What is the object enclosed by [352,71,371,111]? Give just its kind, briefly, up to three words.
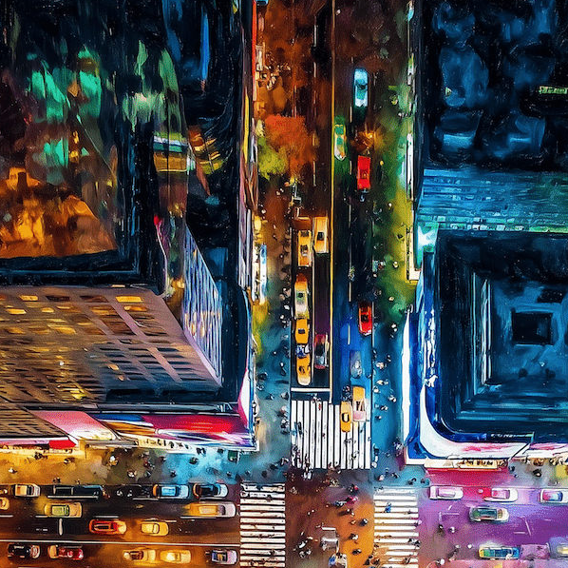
car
